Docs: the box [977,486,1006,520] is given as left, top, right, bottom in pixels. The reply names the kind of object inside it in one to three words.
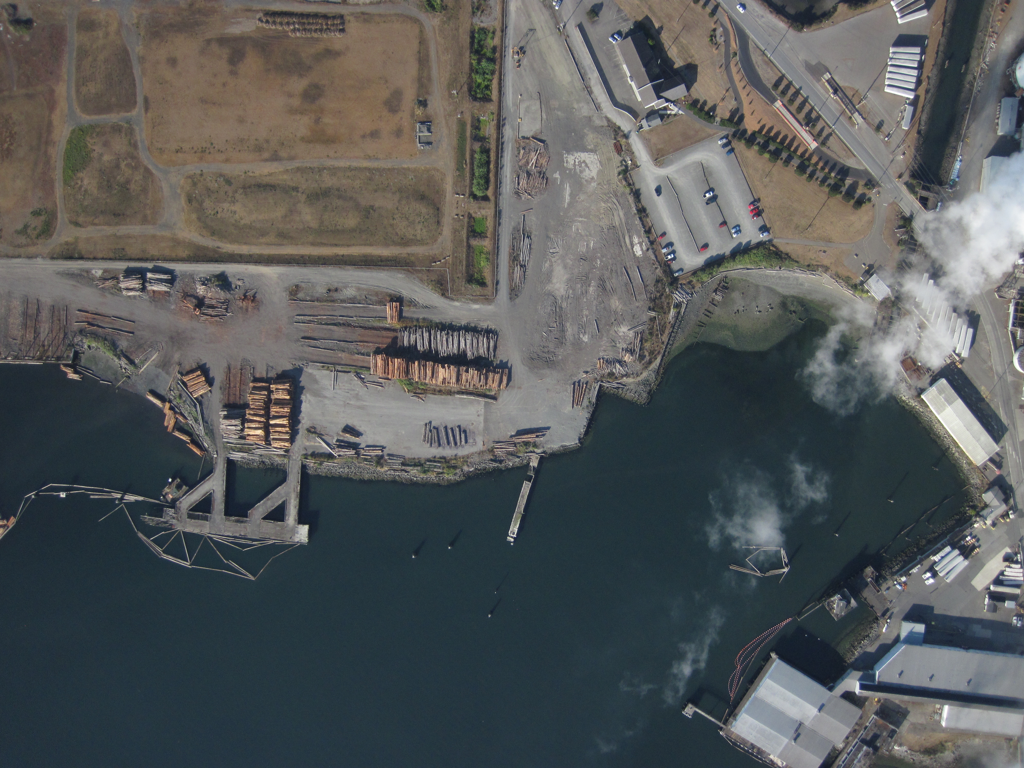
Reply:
building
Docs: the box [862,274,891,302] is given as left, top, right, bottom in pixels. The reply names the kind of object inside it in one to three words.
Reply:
shed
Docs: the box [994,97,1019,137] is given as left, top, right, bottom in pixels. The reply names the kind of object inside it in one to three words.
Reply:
shed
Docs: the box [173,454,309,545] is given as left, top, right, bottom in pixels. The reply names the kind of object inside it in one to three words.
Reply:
pier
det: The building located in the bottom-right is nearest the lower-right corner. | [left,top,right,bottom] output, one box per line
[941,703,1024,737]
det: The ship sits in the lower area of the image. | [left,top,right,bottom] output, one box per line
[163,478,188,502]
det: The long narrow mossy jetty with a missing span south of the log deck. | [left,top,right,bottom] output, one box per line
[507,456,540,541]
